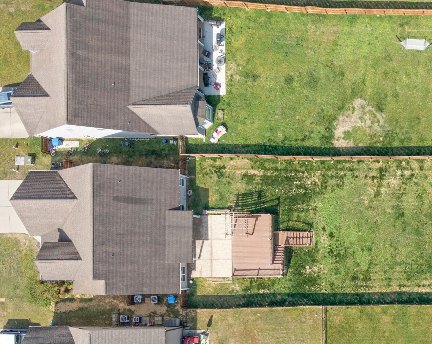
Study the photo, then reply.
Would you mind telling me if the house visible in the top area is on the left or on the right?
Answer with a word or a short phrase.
left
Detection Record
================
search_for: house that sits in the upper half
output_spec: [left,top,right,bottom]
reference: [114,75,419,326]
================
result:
[10,0,212,142]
